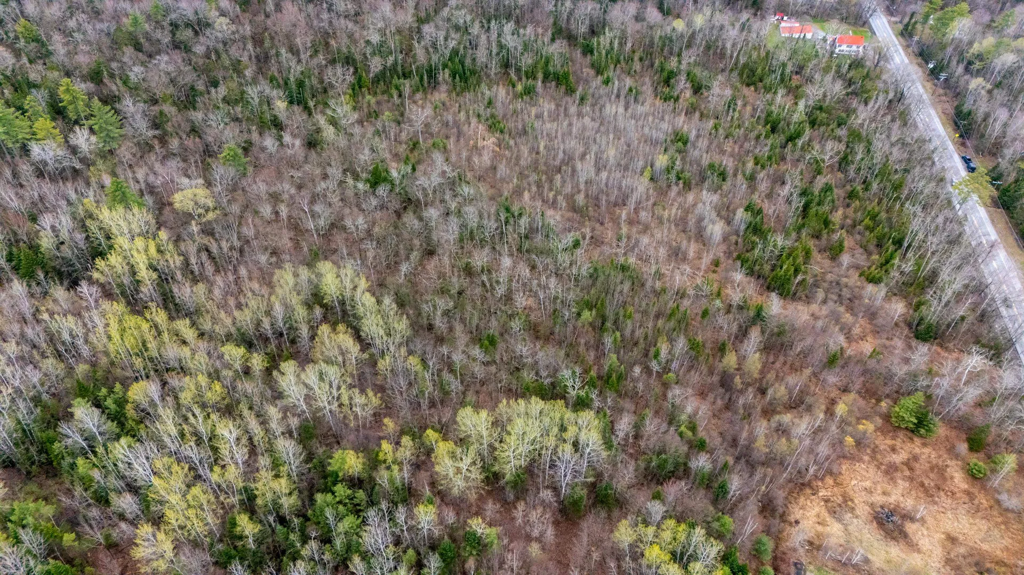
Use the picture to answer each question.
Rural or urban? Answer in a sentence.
This place is rural.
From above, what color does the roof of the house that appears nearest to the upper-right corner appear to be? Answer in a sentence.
From above, the roof of the house that appears nearest to the upper-right corner looks red.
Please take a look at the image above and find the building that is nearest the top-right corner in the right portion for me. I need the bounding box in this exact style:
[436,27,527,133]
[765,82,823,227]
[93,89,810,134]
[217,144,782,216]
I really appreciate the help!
[824,32,869,55]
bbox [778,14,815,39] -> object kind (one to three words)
barn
